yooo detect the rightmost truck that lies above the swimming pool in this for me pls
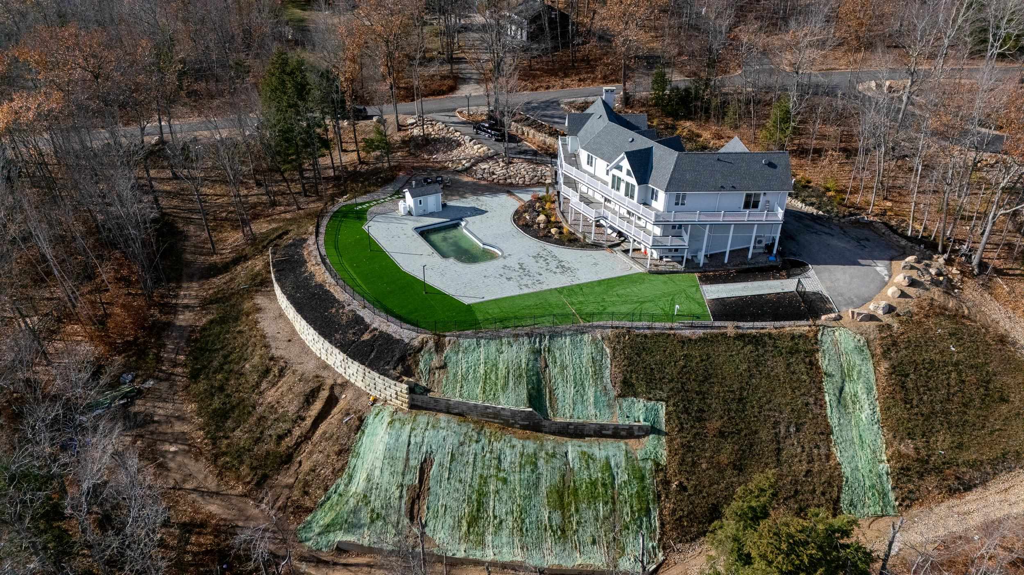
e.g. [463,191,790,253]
[469,119,514,141]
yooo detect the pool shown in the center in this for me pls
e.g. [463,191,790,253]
[412,218,505,264]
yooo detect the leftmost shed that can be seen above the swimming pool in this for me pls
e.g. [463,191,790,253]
[404,176,443,216]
